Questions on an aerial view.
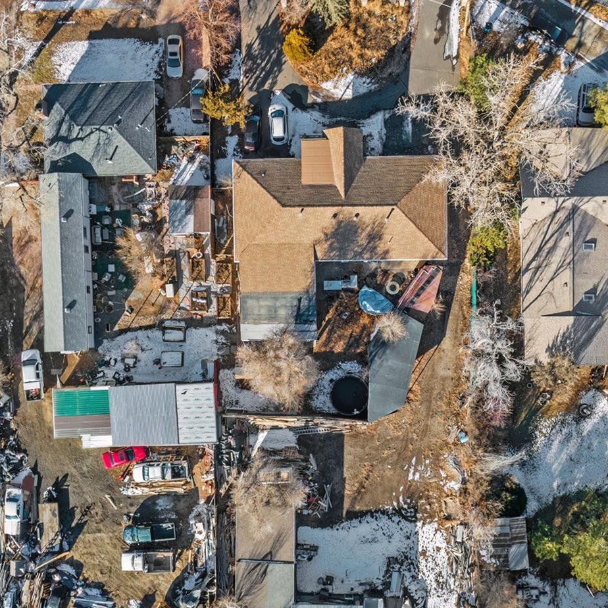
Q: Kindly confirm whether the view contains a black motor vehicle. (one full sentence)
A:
Yes, the image includes a black motor vehicle.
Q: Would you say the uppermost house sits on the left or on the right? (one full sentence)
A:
It is on the left.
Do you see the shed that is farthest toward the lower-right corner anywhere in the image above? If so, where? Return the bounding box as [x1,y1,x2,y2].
[489,515,529,570]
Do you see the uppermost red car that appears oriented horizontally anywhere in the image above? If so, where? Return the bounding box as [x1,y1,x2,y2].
[102,446,146,470]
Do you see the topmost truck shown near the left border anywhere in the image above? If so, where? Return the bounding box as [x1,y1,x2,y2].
[16,350,41,403]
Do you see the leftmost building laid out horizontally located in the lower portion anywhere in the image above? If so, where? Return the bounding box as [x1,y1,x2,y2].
[51,383,219,448]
